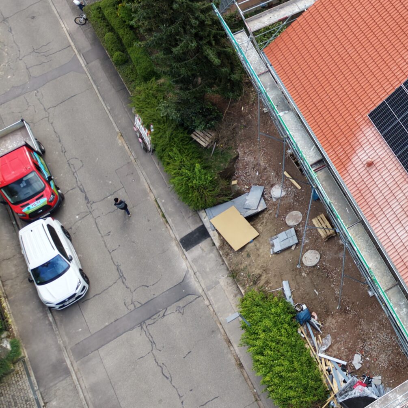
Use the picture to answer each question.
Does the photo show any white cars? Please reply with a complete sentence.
Yes, the frame does contain a white car.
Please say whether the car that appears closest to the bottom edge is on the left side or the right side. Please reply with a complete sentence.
The car that appears closest to the bottom edge sits on the left side.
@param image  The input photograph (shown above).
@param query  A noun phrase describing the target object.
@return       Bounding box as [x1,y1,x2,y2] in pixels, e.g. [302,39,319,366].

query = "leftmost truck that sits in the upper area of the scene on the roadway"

[0,107,61,217]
